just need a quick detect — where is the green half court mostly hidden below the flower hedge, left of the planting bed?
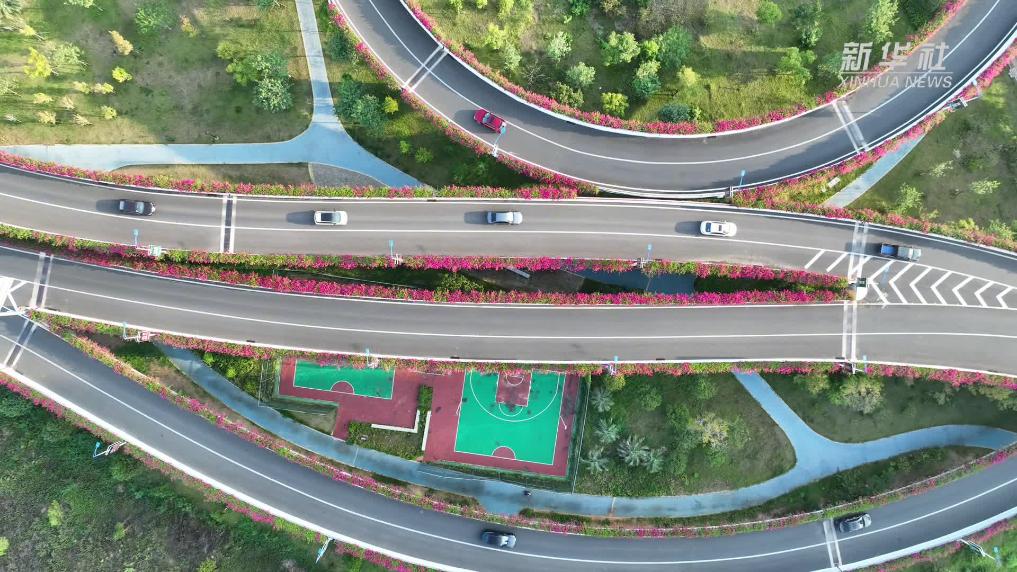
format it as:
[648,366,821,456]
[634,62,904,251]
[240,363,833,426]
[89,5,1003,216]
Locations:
[293,360,396,399]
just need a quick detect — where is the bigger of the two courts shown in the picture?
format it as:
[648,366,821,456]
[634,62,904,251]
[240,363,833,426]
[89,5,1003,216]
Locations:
[454,371,566,465]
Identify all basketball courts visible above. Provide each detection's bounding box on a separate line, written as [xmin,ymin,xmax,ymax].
[293,360,396,399]
[454,371,566,465]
